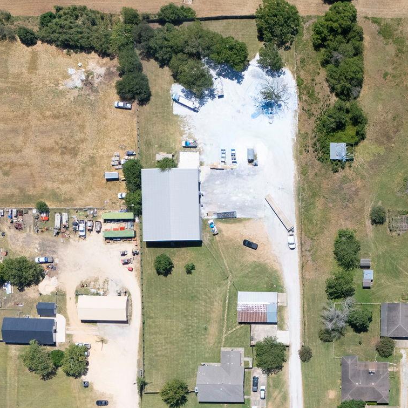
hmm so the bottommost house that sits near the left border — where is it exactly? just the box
[0,317,58,343]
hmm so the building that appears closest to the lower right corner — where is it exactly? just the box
[341,356,389,404]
